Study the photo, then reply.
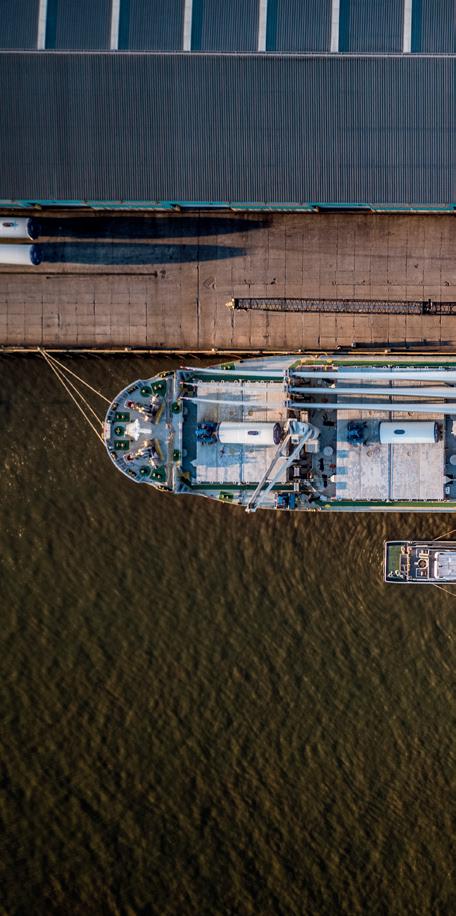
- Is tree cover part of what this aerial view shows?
No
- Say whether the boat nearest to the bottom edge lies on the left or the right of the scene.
right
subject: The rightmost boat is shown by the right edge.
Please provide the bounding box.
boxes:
[382,540,456,584]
